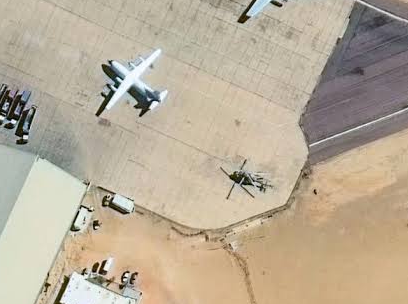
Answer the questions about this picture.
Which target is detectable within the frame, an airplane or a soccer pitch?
airplane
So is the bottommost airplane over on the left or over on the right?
left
